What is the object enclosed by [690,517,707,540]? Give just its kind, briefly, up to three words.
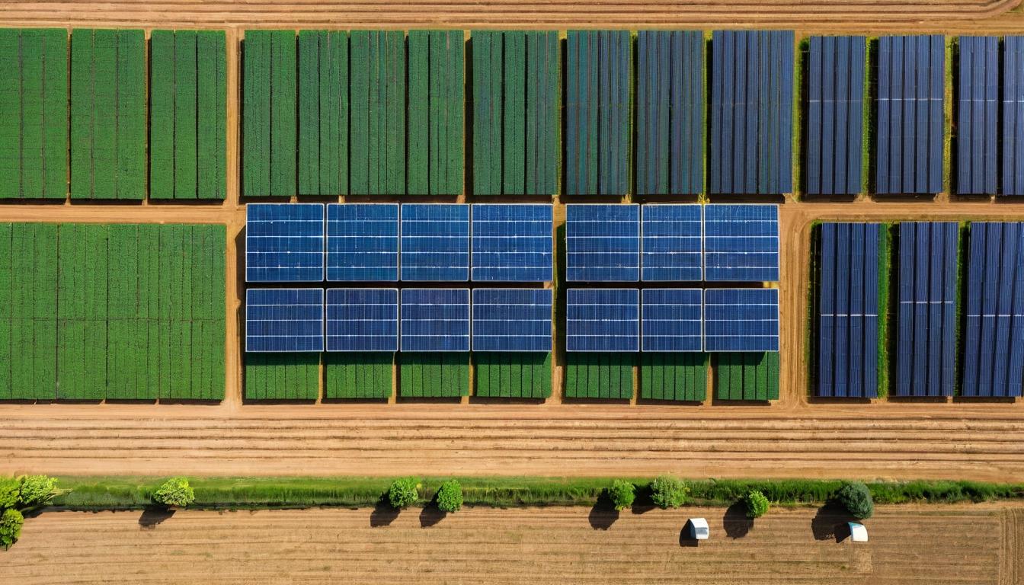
shed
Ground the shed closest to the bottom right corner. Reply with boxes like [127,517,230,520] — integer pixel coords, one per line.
[847,521,867,542]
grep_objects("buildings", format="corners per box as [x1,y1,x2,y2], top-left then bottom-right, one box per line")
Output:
[690,517,707,540]
[847,521,867,542]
